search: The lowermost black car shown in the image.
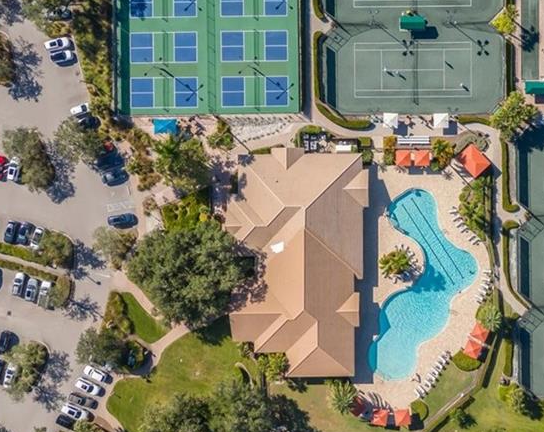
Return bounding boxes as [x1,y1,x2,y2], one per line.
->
[55,413,80,429]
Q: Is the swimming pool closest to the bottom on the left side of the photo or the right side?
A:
right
